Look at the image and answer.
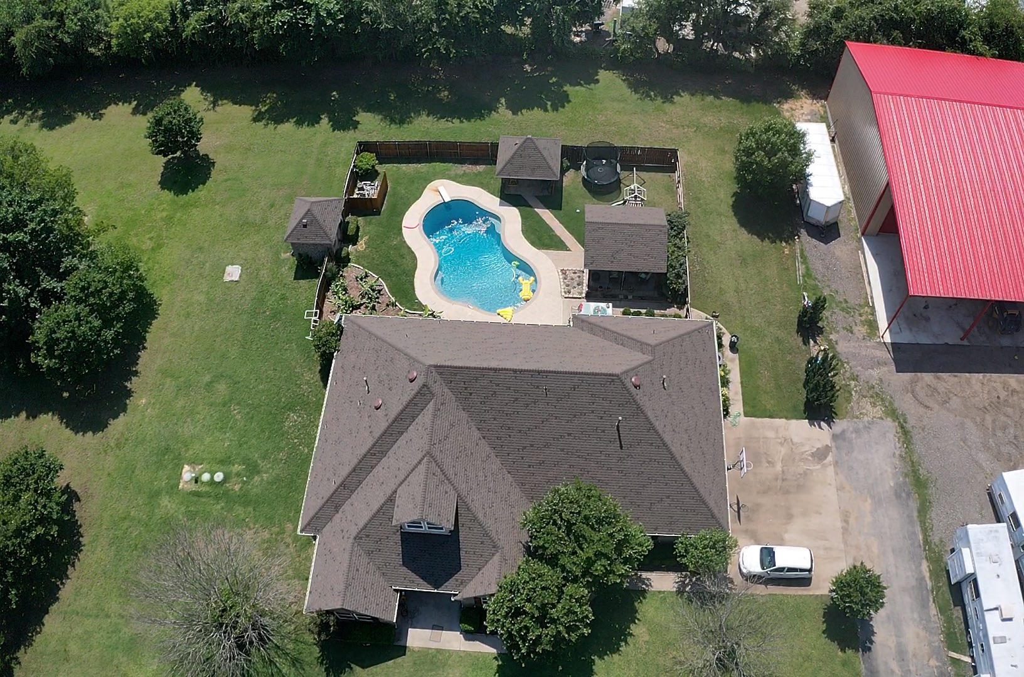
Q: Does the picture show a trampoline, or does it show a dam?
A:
trampoline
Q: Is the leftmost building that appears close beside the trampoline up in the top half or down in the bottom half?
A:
top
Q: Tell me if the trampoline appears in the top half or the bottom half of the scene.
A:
top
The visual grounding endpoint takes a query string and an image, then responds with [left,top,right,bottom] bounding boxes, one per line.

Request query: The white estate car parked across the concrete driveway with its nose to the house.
[740,550,819,588]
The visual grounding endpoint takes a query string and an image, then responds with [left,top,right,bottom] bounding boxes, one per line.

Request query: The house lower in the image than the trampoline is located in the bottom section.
[297,313,732,628]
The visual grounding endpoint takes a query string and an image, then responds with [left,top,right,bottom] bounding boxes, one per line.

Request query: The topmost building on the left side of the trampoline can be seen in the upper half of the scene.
[495,133,561,198]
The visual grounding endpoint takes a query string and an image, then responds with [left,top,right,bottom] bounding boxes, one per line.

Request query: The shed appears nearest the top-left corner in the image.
[284,196,340,259]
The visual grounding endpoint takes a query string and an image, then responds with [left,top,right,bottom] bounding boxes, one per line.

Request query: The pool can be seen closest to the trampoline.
[419,195,541,317]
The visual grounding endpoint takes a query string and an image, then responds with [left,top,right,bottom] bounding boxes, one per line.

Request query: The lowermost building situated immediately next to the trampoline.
[584,203,669,288]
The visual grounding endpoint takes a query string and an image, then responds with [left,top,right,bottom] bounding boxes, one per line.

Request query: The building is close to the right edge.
[827,40,1024,342]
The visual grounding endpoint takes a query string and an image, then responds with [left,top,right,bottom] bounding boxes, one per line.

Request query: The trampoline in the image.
[582,144,624,196]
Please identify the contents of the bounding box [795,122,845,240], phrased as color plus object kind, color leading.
white trailer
